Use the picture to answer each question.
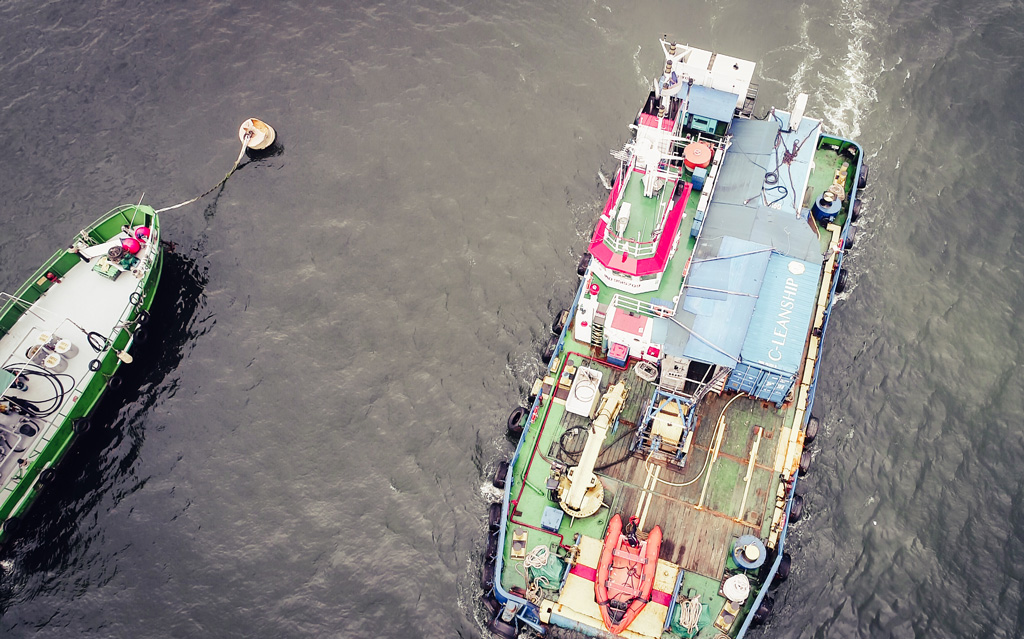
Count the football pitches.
0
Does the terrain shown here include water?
Yes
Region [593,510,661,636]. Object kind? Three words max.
boat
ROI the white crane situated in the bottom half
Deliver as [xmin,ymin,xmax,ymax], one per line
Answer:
[552,373,635,524]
